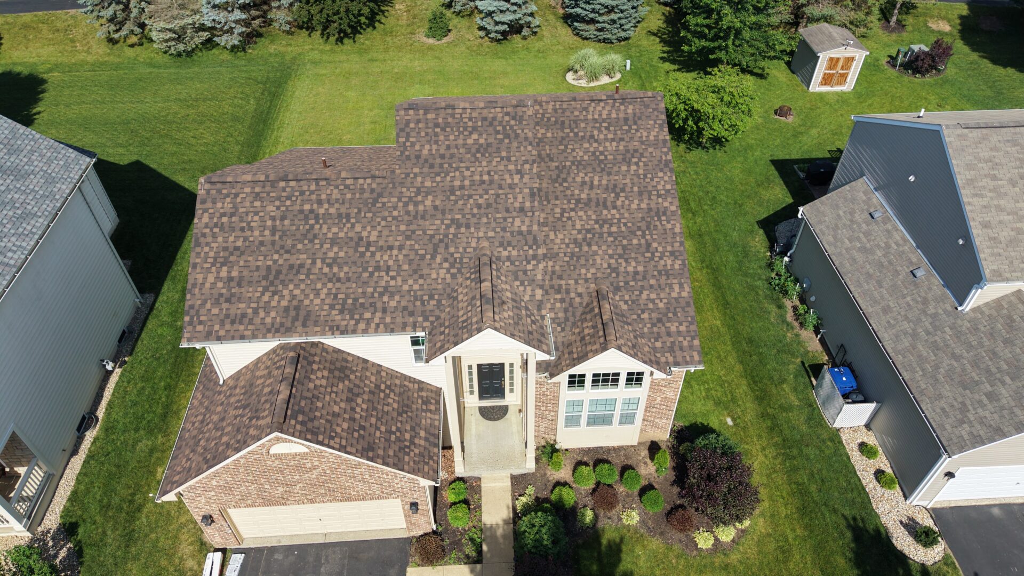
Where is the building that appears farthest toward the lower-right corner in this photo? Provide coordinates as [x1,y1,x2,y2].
[792,100,1024,509]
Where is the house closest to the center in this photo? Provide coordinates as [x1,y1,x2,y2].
[150,75,705,547]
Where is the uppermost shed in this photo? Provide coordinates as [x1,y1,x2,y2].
[793,17,871,89]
